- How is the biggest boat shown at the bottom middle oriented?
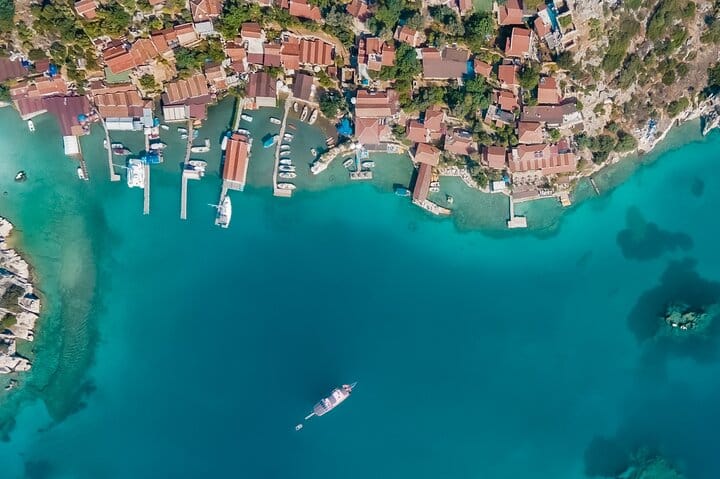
at an angle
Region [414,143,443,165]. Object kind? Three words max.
building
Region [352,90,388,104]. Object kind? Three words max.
building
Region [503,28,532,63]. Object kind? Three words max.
house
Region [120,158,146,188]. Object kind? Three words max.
boat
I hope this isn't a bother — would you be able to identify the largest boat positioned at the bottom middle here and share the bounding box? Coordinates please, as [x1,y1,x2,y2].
[307,385,357,421]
